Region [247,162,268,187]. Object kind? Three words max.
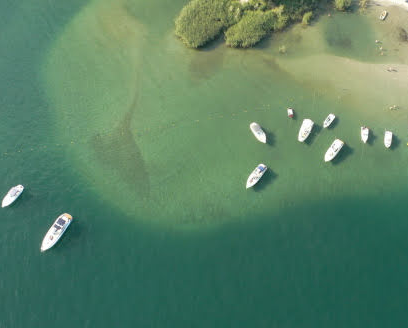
boat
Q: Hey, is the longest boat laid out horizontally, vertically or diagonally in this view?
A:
diagonally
